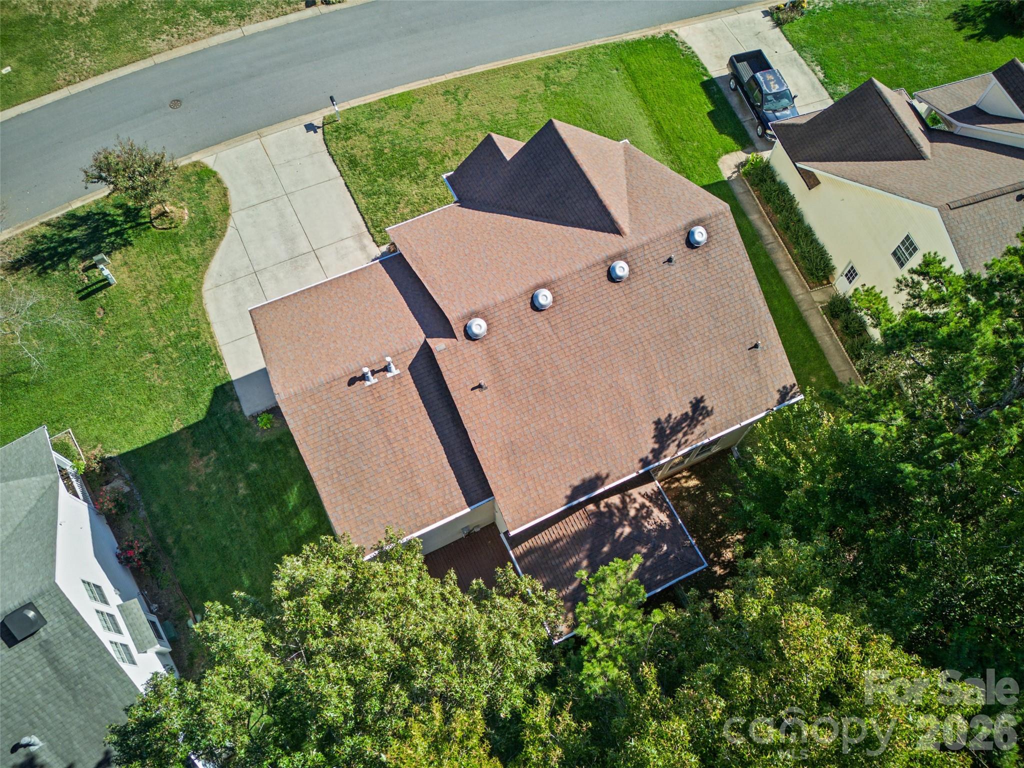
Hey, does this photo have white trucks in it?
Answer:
No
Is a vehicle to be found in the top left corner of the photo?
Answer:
No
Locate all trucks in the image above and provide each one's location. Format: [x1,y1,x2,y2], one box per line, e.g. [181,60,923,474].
[724,65,789,143]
